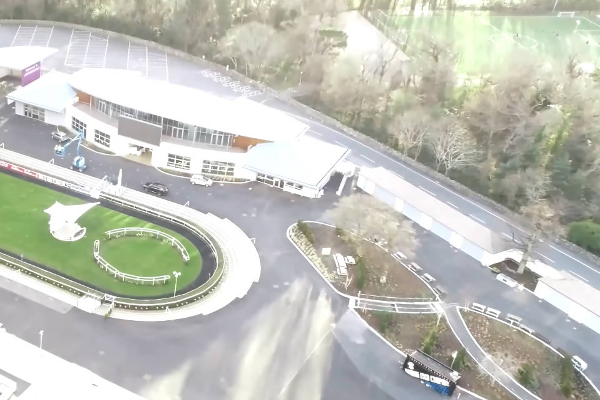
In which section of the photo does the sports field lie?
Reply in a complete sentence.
The sports field appears toward the top right of the photo.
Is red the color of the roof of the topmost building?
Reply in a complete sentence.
No, the color of the roof of the topmost building is white.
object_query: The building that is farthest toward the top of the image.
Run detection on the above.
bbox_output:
[51,67,309,178]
